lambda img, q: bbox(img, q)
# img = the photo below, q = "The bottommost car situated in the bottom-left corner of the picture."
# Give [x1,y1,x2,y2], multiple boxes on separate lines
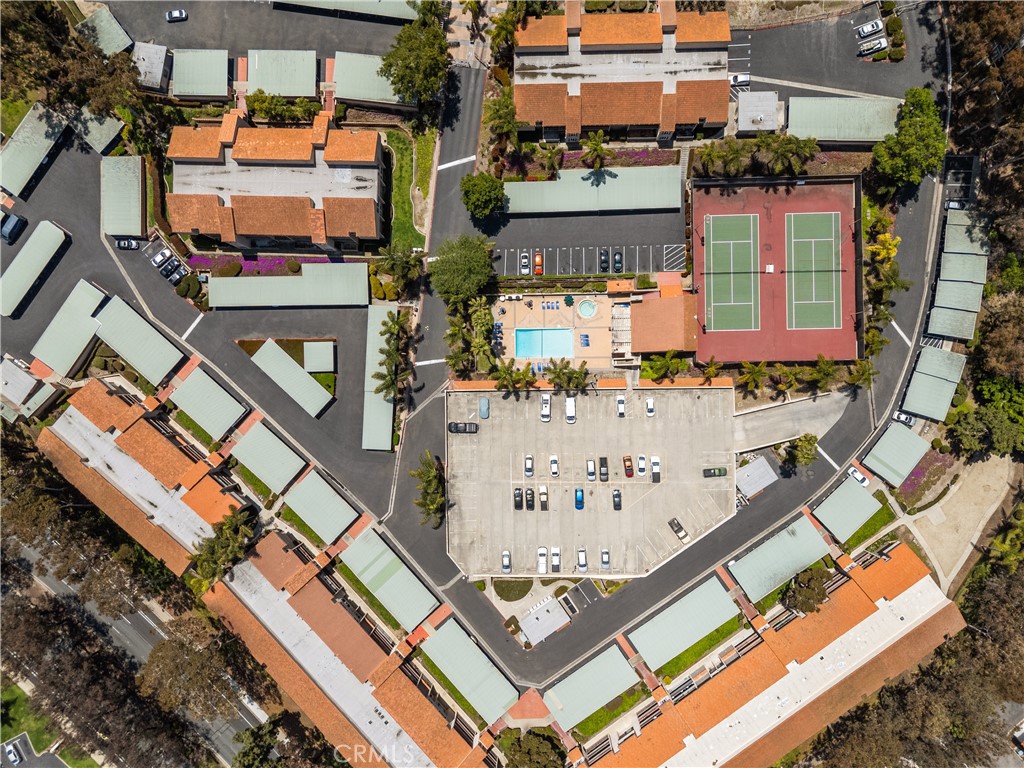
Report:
[5,742,23,764]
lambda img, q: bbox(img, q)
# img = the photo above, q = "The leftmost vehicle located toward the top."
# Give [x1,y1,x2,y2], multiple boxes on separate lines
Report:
[0,215,25,244]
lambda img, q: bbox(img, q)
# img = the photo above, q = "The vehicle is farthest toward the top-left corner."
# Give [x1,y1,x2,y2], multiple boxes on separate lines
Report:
[166,10,189,22]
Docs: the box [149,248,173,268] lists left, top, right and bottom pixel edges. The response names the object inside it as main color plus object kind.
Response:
white car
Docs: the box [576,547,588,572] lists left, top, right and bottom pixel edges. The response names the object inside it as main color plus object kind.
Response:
white vehicle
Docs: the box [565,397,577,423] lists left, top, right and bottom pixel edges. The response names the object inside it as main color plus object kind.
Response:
white vehicle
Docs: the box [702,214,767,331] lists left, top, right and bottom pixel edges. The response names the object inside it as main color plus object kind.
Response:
green tennis court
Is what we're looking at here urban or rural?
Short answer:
urban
